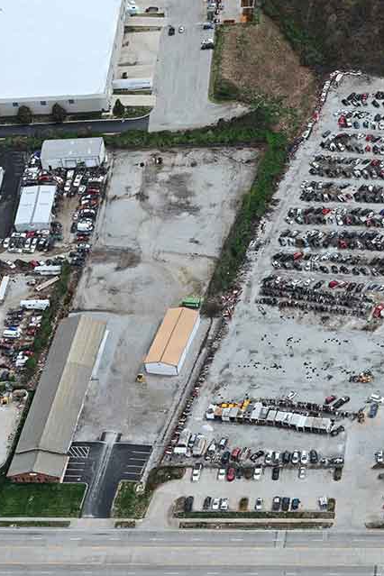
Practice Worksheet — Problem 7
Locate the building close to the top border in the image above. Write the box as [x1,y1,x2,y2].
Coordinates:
[0,0,130,115]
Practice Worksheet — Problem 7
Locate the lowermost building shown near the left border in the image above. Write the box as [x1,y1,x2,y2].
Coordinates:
[9,312,110,488]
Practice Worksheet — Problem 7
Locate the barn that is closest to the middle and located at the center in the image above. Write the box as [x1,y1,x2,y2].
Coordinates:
[144,305,200,375]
